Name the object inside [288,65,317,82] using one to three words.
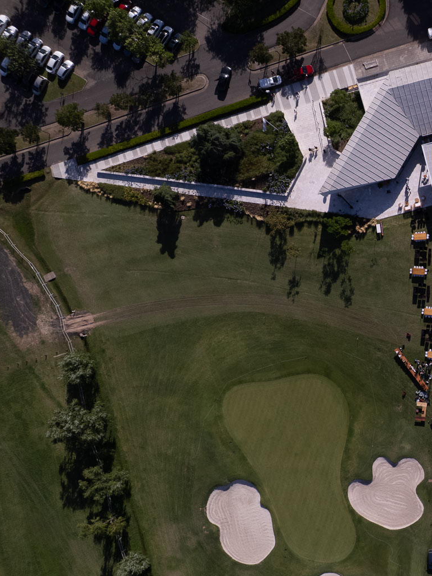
car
